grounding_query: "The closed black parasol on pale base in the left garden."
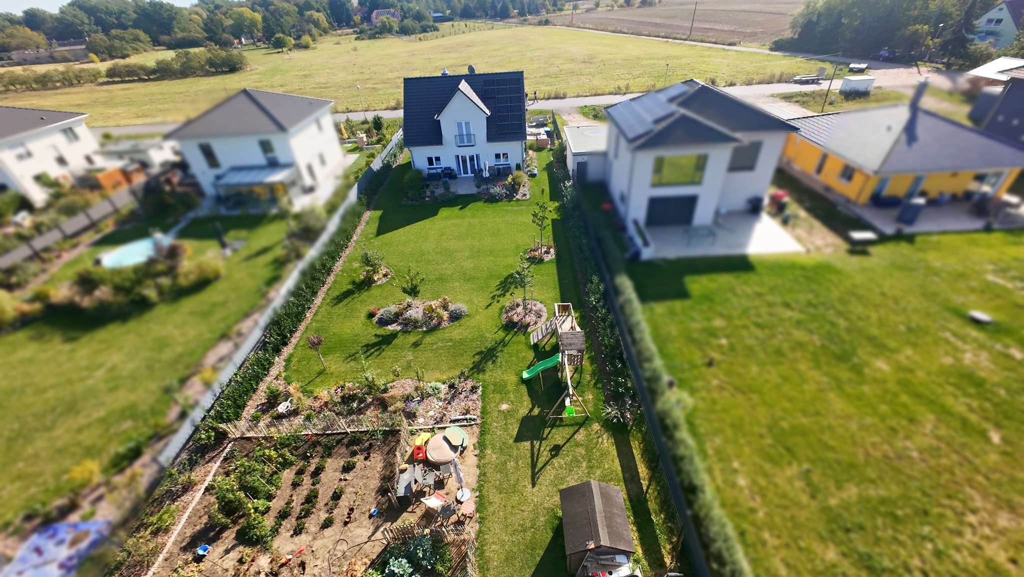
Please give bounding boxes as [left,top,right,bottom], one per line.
[217,221,233,255]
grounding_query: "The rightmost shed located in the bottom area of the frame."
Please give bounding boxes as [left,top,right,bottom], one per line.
[560,477,635,577]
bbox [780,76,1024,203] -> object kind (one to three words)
house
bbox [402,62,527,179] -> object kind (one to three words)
house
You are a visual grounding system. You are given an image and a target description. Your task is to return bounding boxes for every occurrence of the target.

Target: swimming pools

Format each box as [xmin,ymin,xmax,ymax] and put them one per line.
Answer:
[90,231,170,265]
